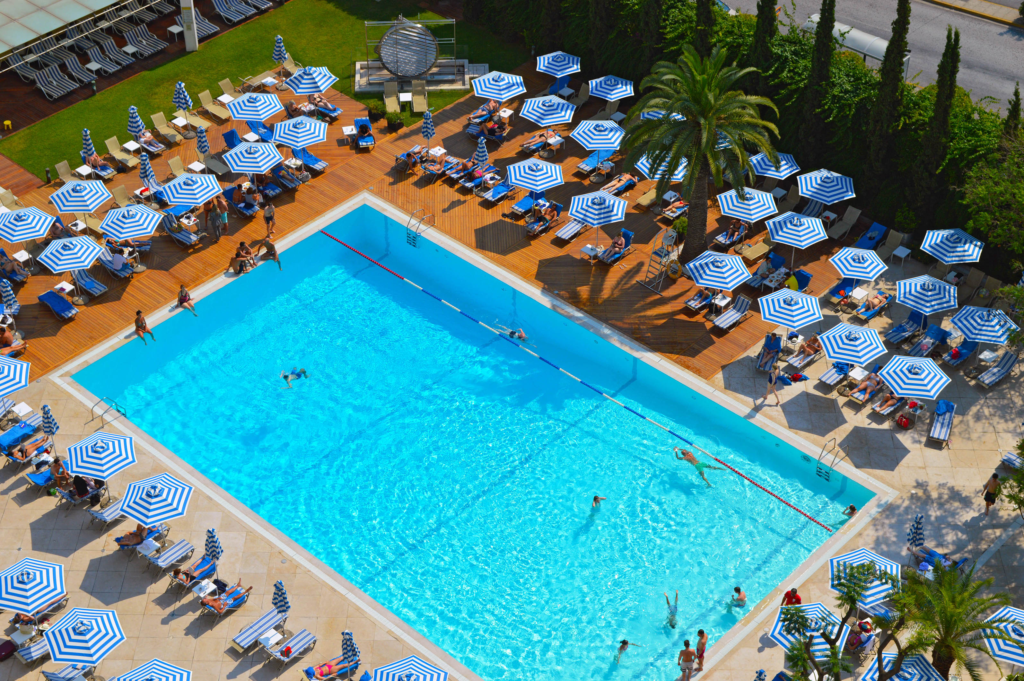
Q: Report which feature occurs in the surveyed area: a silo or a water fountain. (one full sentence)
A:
This aerial view contains a water fountain.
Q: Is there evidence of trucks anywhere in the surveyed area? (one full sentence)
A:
No, I find no truck anywhere in the image.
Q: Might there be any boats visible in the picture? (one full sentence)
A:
No, I can't see a single boat in this photo.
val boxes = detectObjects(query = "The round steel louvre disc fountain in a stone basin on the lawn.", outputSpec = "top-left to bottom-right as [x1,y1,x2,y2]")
[353,14,493,94]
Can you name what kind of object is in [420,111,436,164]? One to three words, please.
umbrella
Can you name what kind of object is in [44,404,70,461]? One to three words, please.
umbrella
